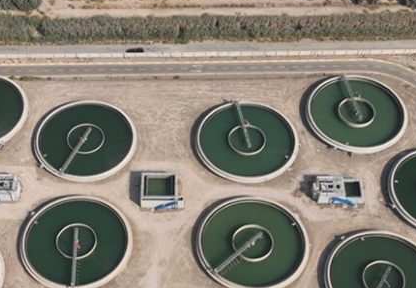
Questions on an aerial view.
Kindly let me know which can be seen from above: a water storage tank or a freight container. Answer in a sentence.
Of the two, only a water storage tank appears.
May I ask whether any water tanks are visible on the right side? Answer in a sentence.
Yes, looking on the right side, one can make out a water tank.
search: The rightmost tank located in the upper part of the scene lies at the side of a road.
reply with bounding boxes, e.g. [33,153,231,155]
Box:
[307,73,406,156]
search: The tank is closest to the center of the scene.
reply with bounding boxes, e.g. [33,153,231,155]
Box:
[198,99,301,183]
